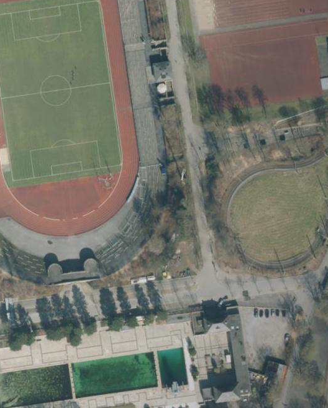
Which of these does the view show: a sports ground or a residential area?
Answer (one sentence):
The picture captures a sports ground.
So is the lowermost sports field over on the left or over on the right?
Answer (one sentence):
You can find the lowermost sports field on the right side of the picture.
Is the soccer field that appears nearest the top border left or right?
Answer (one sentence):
You can find the soccer field that appears nearest the top border on the left side of the picture.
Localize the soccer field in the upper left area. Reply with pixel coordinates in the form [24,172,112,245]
[0,0,124,189]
